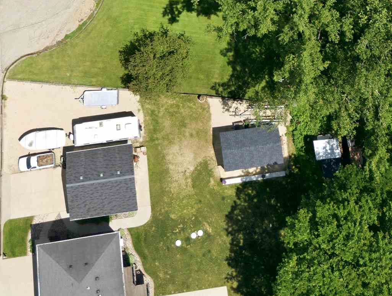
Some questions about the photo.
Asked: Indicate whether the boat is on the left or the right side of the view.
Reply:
left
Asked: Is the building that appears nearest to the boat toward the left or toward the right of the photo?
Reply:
left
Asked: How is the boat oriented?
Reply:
from left to right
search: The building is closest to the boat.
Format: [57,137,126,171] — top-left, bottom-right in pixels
[66,142,138,221]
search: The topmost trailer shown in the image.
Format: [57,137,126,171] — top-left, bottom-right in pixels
[75,87,121,109]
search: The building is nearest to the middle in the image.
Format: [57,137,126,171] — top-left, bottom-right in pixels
[220,126,283,172]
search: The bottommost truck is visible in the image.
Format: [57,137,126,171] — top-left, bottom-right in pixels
[18,150,57,173]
